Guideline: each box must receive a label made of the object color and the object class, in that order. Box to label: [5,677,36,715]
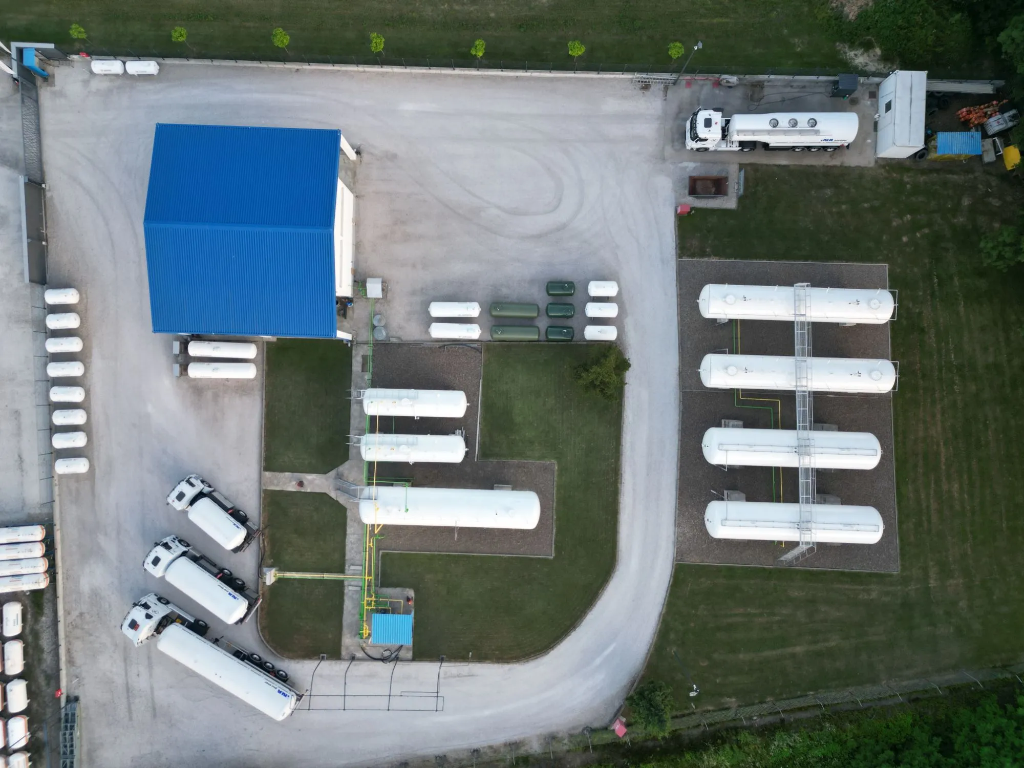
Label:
white storage tank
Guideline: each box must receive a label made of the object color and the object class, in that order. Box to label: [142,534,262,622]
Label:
white truck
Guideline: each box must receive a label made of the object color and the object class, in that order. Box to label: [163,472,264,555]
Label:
white truck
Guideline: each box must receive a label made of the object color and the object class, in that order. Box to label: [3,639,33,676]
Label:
white storage tank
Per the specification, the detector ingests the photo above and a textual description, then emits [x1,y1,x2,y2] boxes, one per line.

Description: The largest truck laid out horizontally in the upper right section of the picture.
[683,107,862,153]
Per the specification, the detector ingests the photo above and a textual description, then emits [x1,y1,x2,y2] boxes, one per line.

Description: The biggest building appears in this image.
[142,122,357,342]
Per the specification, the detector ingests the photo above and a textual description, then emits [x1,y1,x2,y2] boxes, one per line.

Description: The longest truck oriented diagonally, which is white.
[121,591,312,722]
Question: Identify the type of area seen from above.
industrial area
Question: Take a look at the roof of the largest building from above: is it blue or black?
blue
